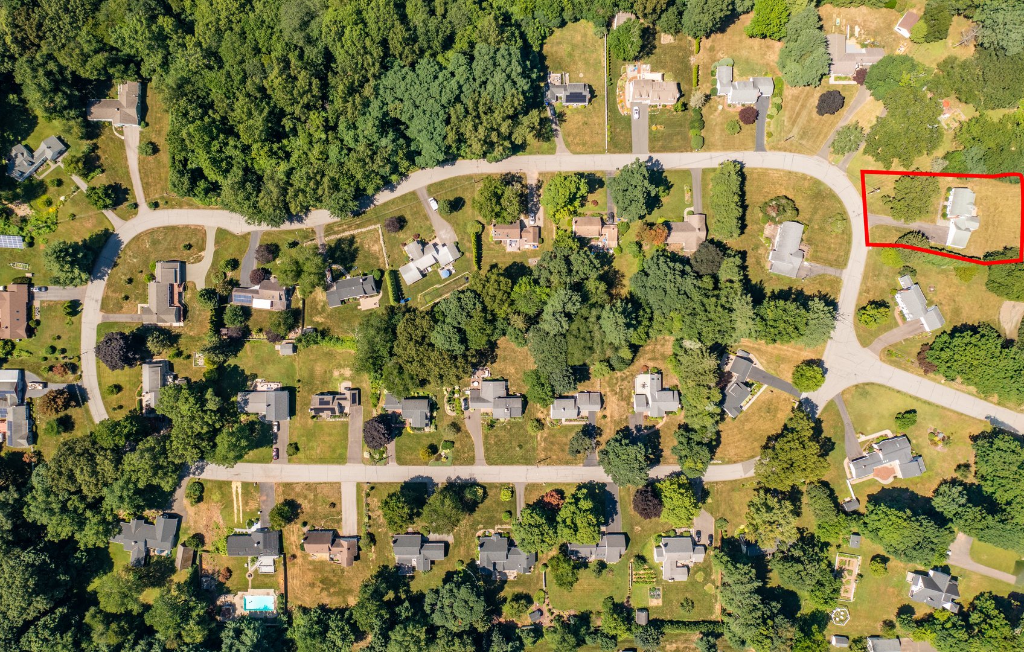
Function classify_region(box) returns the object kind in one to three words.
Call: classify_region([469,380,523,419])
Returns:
house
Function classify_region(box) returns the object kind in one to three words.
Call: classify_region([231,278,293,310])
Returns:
house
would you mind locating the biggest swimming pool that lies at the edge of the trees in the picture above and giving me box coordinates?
[236,589,278,617]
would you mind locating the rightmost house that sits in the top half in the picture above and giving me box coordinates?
[943,186,982,250]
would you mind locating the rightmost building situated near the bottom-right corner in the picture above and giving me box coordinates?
[903,562,962,614]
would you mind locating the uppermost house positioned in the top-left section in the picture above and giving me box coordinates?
[83,79,143,126]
